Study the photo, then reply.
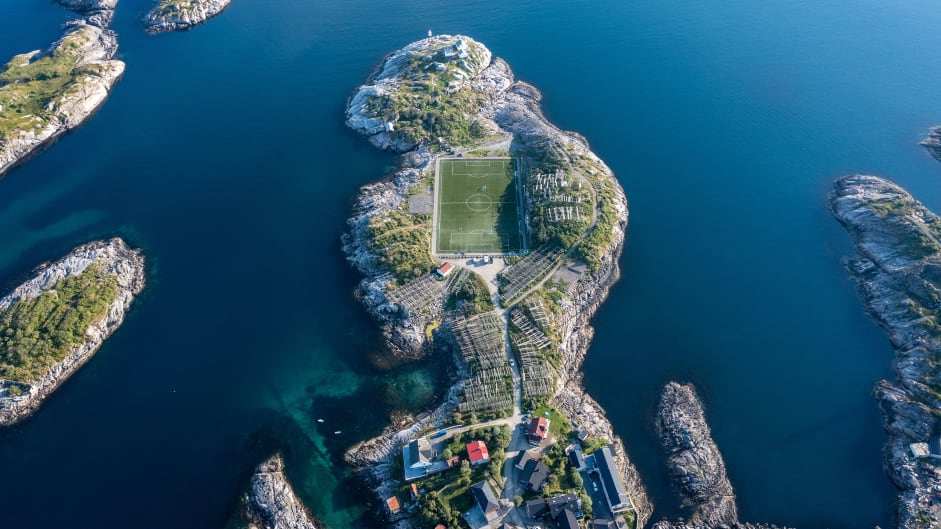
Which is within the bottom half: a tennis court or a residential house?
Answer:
residential house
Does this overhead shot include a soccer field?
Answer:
Yes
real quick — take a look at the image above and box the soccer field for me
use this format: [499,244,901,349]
[432,158,527,255]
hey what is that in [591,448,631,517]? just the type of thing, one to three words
building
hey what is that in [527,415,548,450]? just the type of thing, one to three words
house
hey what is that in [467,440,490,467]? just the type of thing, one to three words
house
